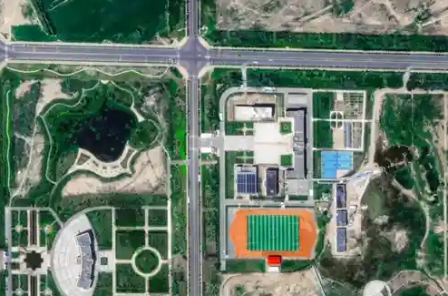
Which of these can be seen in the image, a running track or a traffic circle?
running track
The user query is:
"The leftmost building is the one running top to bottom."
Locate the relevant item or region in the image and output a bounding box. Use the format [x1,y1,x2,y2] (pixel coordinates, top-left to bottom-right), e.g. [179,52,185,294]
[72,232,97,289]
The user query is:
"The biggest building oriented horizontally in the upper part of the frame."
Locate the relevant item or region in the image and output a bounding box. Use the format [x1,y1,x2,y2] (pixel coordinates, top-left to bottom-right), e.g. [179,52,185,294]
[235,106,272,120]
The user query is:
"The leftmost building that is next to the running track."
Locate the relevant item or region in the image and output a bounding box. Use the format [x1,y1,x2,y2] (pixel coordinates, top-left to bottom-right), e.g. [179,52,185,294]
[236,165,257,195]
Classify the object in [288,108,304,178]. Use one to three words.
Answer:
building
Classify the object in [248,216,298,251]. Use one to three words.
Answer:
sports field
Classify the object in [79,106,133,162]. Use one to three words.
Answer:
pond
